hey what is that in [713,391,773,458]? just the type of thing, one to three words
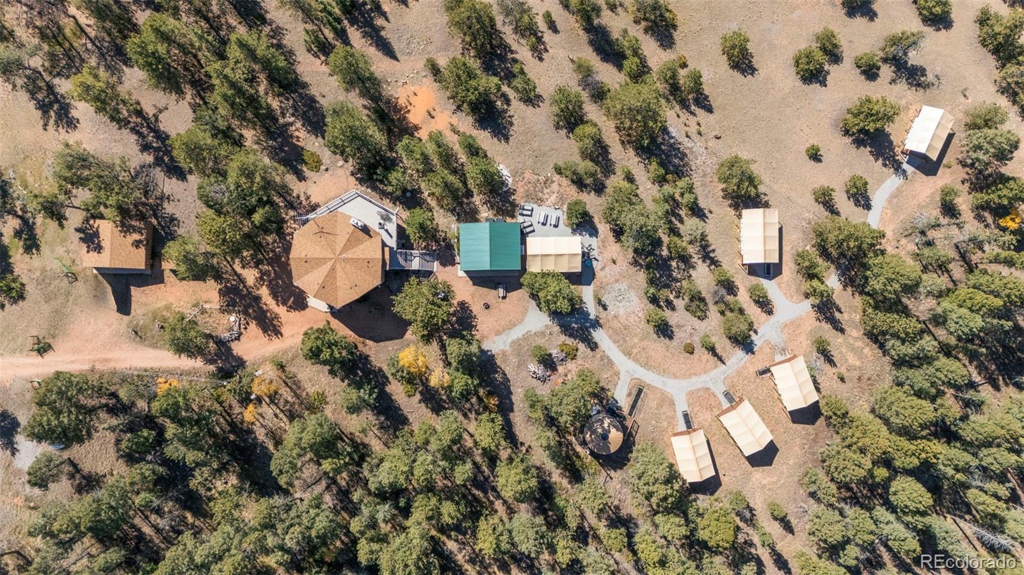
tent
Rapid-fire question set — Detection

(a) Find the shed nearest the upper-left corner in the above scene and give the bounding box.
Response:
[84,219,152,268]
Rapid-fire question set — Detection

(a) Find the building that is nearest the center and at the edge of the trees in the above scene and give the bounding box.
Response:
[460,222,524,276]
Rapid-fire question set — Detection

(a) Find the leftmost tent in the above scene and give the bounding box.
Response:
[670,413,716,483]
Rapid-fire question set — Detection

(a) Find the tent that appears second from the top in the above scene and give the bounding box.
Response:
[733,208,779,276]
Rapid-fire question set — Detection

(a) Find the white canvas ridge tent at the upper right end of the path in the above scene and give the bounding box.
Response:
[892,105,954,166]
